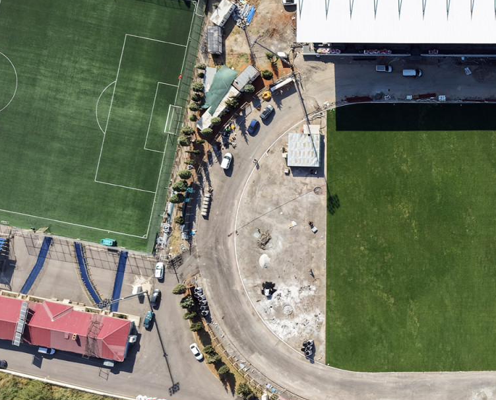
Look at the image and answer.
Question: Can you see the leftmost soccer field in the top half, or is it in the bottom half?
top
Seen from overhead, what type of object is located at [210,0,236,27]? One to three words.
building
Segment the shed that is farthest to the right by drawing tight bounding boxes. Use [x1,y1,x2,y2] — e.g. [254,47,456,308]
[288,133,323,167]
